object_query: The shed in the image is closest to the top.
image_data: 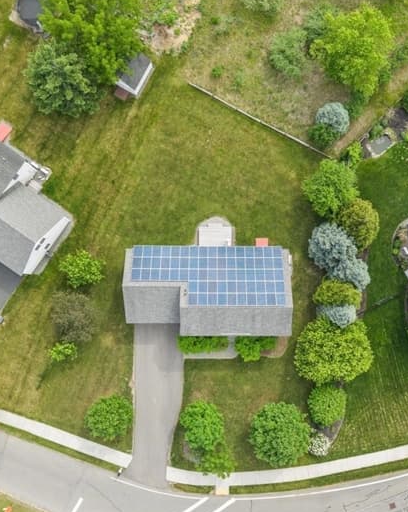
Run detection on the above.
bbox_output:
[110,46,155,102]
